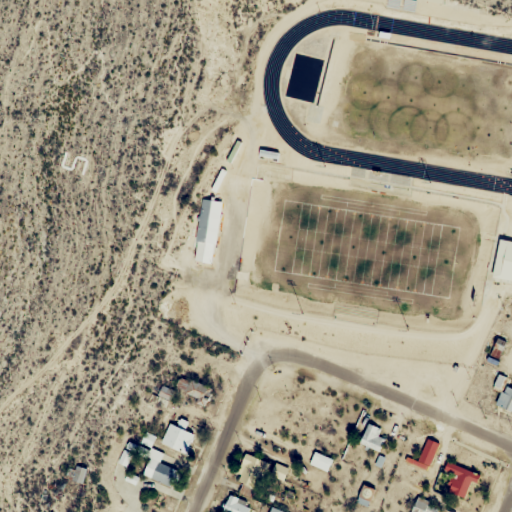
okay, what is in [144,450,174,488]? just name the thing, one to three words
house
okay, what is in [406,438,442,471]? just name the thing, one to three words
house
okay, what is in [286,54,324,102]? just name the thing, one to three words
sports court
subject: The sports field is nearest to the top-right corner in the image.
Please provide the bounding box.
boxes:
[280,27,512,178]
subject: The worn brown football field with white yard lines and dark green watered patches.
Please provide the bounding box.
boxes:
[249,181,484,322]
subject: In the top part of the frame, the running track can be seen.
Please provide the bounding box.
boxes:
[264,10,512,194]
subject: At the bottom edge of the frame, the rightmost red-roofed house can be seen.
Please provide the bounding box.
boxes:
[446,464,480,499]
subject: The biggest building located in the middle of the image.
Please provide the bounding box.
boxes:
[194,200,222,264]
